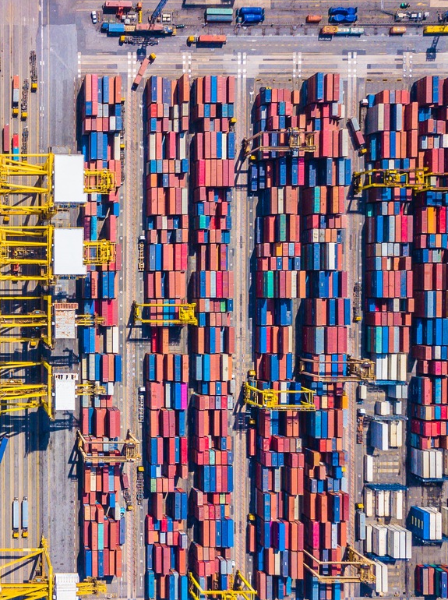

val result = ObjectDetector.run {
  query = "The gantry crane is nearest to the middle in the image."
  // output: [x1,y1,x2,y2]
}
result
[134,301,198,327]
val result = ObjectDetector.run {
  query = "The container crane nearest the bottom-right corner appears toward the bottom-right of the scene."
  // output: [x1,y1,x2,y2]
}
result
[301,543,374,581]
